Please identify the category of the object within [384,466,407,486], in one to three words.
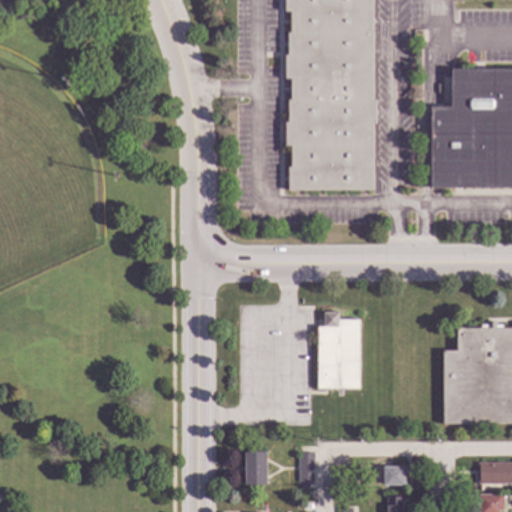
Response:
house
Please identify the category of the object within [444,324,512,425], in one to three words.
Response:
building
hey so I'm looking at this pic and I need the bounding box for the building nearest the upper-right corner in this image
[432,68,512,188]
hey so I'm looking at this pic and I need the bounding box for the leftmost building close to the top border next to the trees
[286,0,376,190]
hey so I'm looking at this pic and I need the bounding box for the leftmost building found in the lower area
[246,452,268,485]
